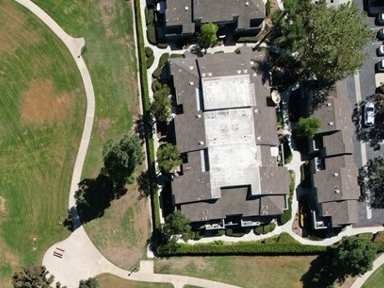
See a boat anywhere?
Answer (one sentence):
No, no boat can be seen from above.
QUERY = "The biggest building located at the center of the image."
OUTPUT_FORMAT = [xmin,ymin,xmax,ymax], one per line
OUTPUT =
[167,49,289,223]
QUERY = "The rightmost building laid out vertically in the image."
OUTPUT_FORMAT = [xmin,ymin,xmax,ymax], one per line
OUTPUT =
[302,77,360,227]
